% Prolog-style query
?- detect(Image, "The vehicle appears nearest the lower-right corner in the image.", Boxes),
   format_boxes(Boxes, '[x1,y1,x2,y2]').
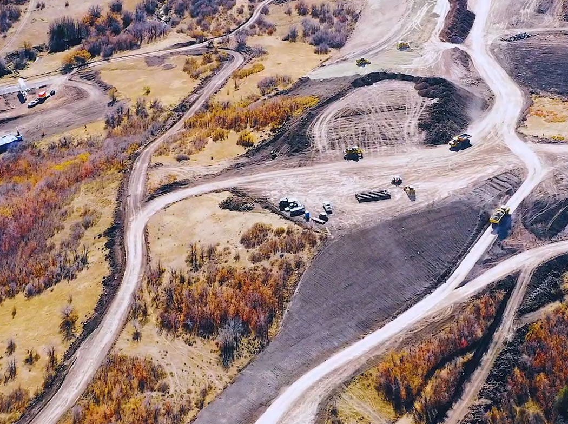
[490,205,512,225]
